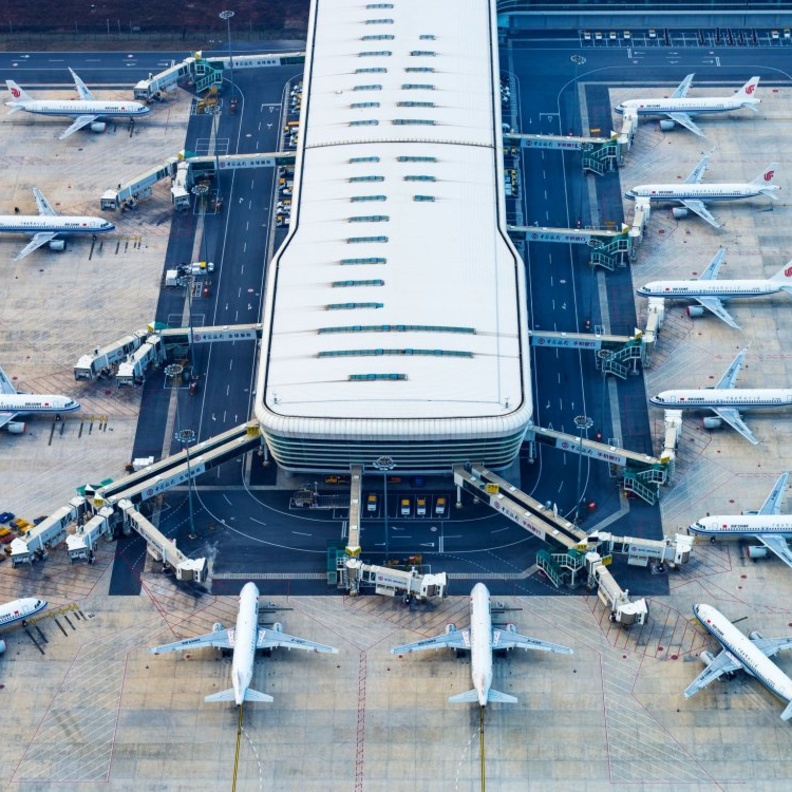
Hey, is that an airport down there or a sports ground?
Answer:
airport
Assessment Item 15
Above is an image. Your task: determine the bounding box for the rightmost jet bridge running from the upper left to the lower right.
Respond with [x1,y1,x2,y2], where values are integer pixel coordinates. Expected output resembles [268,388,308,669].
[568,547,644,630]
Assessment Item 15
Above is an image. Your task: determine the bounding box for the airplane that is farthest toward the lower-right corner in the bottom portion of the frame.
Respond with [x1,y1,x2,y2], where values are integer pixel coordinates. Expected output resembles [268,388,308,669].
[688,607,792,714]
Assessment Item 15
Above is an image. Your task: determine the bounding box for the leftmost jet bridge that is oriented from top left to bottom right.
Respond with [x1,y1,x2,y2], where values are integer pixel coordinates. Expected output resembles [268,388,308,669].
[108,500,203,583]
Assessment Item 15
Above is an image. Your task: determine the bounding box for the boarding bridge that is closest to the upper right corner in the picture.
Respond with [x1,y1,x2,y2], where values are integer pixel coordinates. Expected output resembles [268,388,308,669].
[611,101,638,169]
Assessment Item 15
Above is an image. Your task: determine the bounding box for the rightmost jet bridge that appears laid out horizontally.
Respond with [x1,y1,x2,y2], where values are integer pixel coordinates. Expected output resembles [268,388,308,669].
[582,531,694,578]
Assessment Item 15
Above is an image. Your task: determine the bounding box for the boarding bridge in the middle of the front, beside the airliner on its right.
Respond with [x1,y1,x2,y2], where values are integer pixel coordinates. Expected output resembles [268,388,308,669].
[344,550,443,610]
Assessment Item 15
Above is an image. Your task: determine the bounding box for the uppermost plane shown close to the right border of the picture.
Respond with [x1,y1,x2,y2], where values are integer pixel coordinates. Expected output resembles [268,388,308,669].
[616,72,762,137]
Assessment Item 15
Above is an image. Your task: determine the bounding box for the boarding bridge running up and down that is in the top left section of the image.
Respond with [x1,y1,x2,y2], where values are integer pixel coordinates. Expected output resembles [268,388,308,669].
[171,162,193,211]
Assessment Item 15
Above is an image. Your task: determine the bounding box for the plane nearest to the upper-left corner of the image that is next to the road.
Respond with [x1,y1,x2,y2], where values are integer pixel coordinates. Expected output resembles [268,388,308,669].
[4,76,150,142]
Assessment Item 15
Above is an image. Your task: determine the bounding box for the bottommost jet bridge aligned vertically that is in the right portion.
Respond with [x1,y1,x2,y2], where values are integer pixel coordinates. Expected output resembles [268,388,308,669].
[657,401,683,491]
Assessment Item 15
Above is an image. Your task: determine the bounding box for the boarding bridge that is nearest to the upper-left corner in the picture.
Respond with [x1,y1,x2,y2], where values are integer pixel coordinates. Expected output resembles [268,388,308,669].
[137,56,196,103]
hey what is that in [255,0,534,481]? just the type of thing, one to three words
building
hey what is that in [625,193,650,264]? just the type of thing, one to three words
jet bridge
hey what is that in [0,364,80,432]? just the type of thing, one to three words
airplane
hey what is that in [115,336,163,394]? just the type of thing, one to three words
jet bridge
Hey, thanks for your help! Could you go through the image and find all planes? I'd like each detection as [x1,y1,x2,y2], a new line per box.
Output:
[616,72,762,137]
[153,586,334,704]
[638,241,792,329]
[391,586,572,704]
[650,345,792,443]
[626,147,781,225]
[4,76,150,142]
[0,364,80,432]
[688,607,792,714]
[0,186,115,262]
[689,474,792,572]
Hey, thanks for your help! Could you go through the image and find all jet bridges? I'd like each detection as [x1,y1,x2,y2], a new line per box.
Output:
[115,336,163,394]
[344,550,443,610]
[639,292,666,370]
[625,193,650,264]
[582,531,694,578]
[137,56,196,103]
[657,401,683,491]
[75,329,155,385]
[568,547,644,630]
[101,159,183,215]
[171,162,193,211]
[108,500,203,583]
[67,505,117,571]
[611,101,638,169]
[9,495,103,574]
